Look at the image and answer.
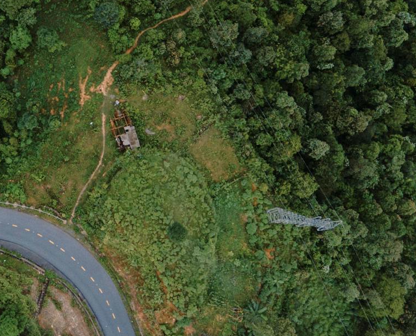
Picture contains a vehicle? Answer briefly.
No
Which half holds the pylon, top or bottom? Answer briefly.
bottom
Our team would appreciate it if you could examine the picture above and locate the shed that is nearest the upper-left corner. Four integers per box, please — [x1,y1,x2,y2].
[106,111,140,152]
